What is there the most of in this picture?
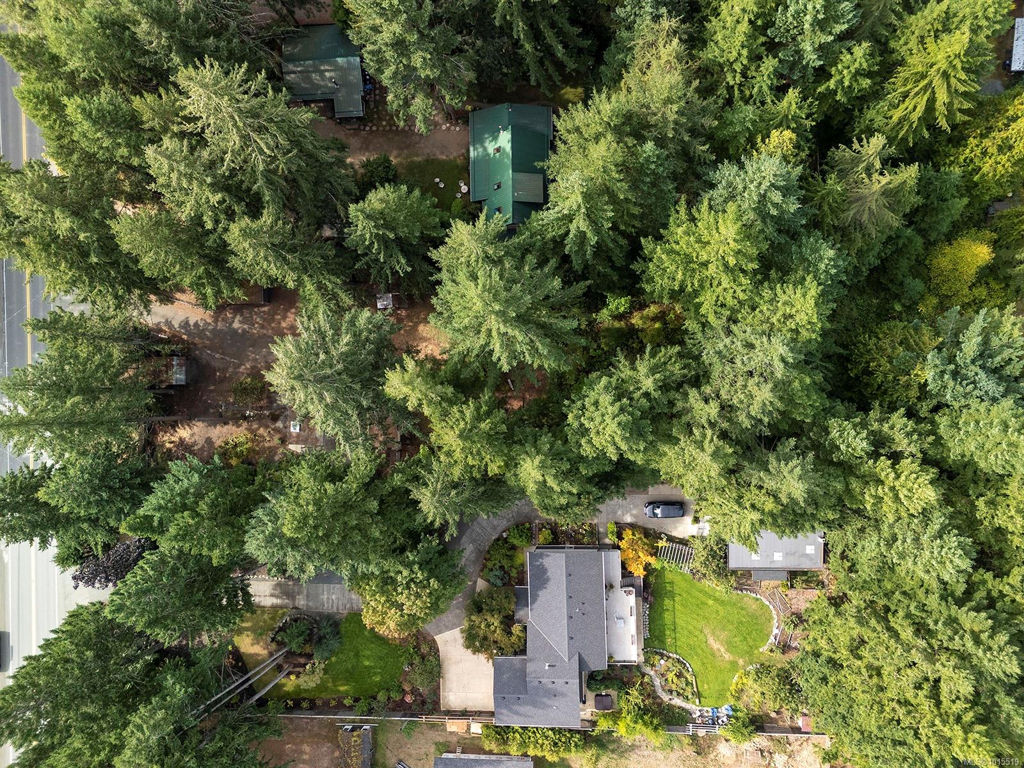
trees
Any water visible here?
No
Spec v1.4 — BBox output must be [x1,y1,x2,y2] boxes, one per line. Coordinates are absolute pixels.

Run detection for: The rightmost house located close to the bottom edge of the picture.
[494,543,643,730]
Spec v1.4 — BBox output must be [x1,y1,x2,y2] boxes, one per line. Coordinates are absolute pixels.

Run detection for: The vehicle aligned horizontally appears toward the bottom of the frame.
[645,501,686,520]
